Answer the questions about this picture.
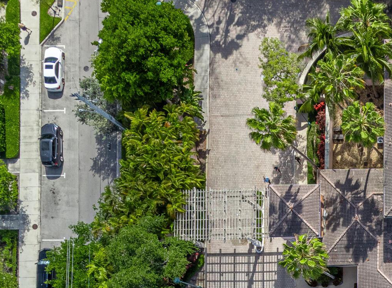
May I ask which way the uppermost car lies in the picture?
vertically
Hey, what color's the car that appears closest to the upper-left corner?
white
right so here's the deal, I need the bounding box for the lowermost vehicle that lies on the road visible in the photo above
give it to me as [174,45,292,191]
[39,124,65,168]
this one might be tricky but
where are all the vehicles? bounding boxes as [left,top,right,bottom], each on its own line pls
[30,250,53,288]
[39,124,65,168]
[42,48,66,93]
